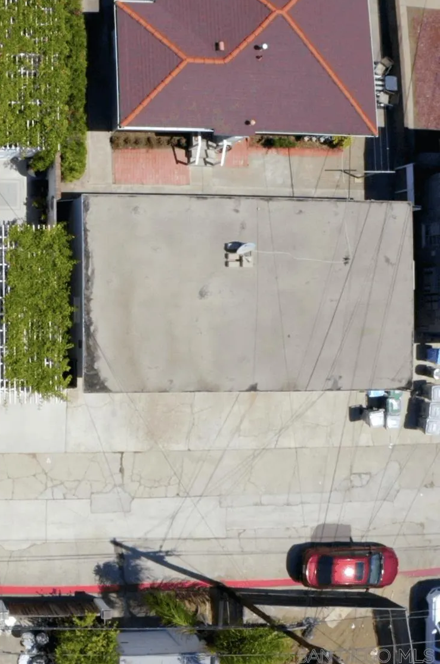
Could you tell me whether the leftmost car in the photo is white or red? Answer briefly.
red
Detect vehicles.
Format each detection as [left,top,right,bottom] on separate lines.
[296,543,398,595]
[417,585,440,664]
